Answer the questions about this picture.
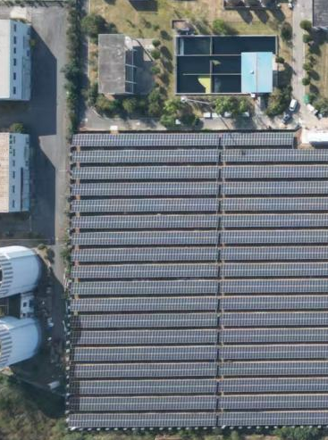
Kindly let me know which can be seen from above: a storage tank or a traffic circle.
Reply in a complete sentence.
The one in the frame is a storage tank.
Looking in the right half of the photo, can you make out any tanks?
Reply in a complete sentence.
Yes, in the right half of the photo there is a tank.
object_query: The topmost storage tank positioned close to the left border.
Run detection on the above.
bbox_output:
[0,245,42,301]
